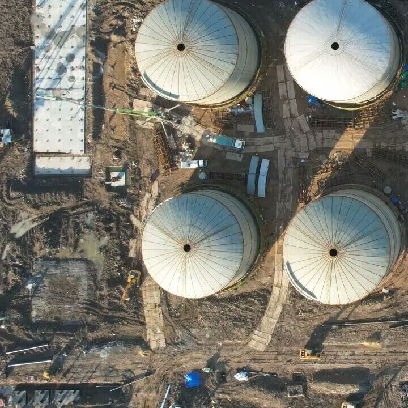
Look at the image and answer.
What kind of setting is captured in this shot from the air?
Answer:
industrial area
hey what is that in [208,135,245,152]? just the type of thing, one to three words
vehicle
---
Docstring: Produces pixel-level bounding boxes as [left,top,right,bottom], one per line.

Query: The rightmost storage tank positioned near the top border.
[284,0,404,105]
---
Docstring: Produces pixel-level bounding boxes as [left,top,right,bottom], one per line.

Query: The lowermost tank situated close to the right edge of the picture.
[283,184,404,305]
